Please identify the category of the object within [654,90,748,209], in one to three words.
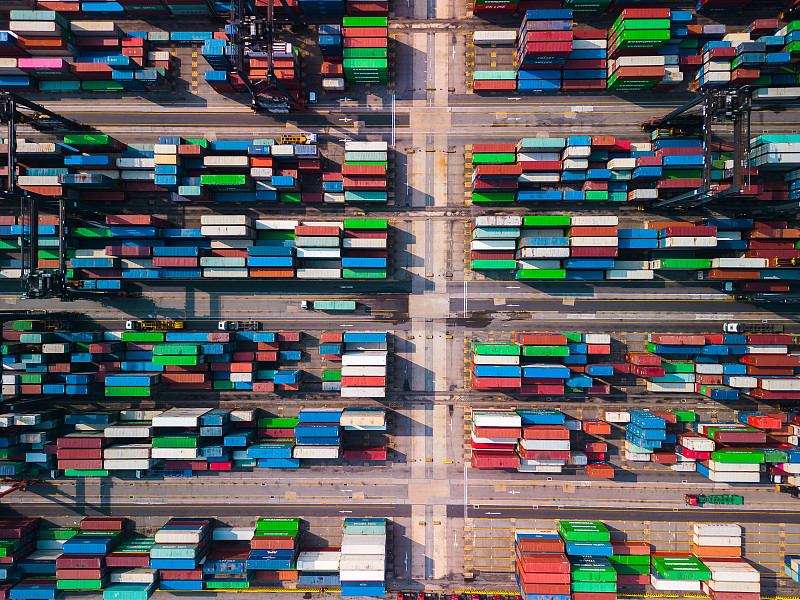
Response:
container crane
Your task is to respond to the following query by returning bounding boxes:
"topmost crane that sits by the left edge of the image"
[0,88,75,209]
